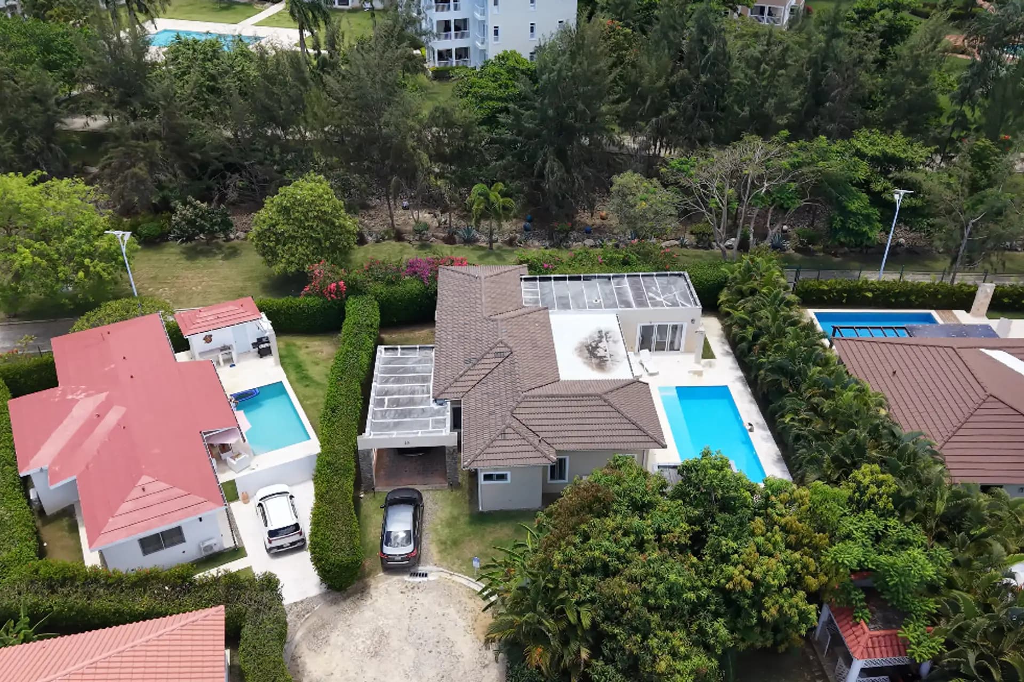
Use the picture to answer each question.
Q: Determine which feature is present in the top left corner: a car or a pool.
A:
pool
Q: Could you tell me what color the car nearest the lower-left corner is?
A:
white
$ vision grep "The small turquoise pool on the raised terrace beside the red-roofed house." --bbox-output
[235,382,310,456]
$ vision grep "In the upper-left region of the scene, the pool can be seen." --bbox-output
[150,28,271,54]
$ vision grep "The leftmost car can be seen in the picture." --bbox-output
[255,488,306,566]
